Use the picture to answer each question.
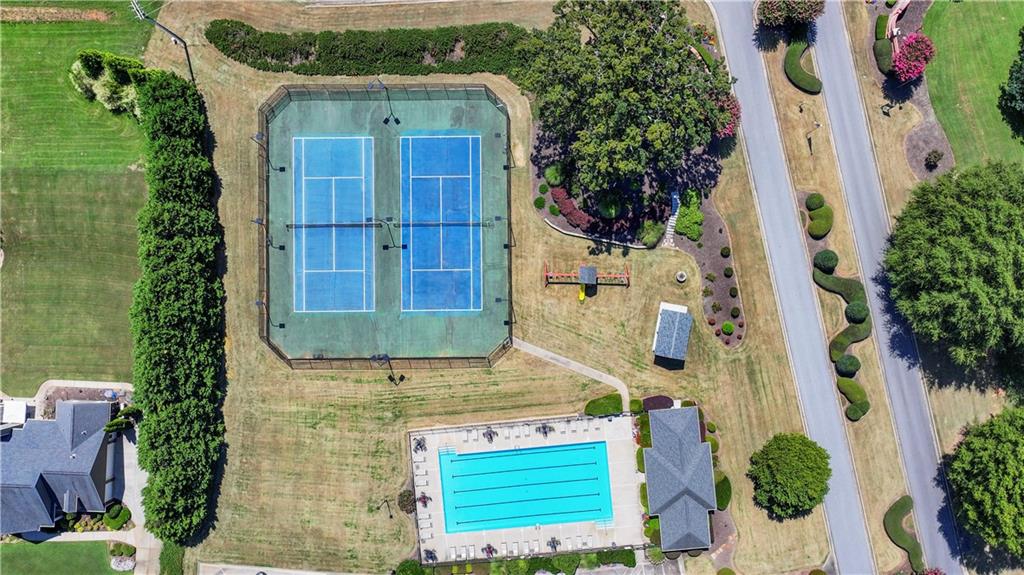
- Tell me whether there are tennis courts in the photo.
Yes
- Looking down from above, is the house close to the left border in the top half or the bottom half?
bottom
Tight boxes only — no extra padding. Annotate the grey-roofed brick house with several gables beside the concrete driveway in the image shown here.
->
[0,400,119,533]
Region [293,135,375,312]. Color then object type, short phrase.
blue tennis court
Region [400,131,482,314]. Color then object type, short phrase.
blue tennis court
